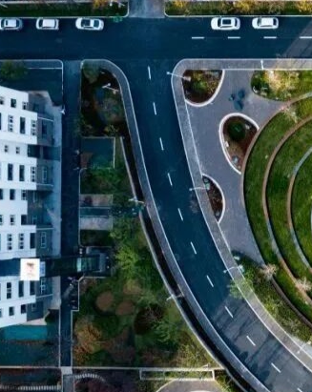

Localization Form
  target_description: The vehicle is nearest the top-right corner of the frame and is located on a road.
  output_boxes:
[253,16,280,30]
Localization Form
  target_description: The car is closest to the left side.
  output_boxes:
[0,17,26,31]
